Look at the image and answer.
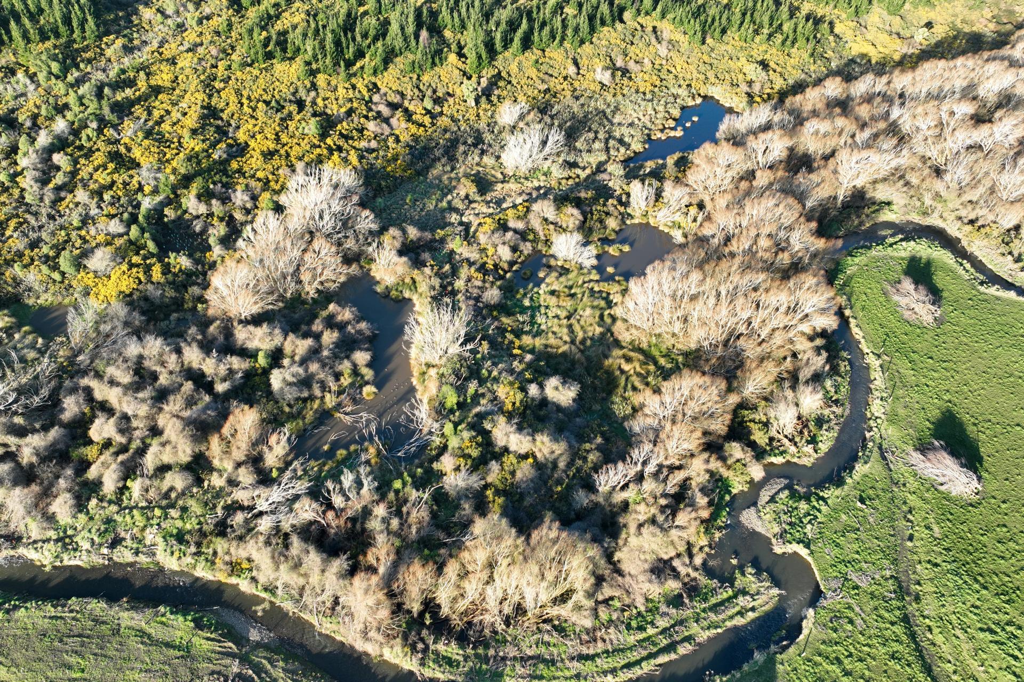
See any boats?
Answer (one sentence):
No, this view has no boat in it.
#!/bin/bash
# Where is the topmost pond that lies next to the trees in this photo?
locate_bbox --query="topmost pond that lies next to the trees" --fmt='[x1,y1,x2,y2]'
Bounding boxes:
[615,97,734,170]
